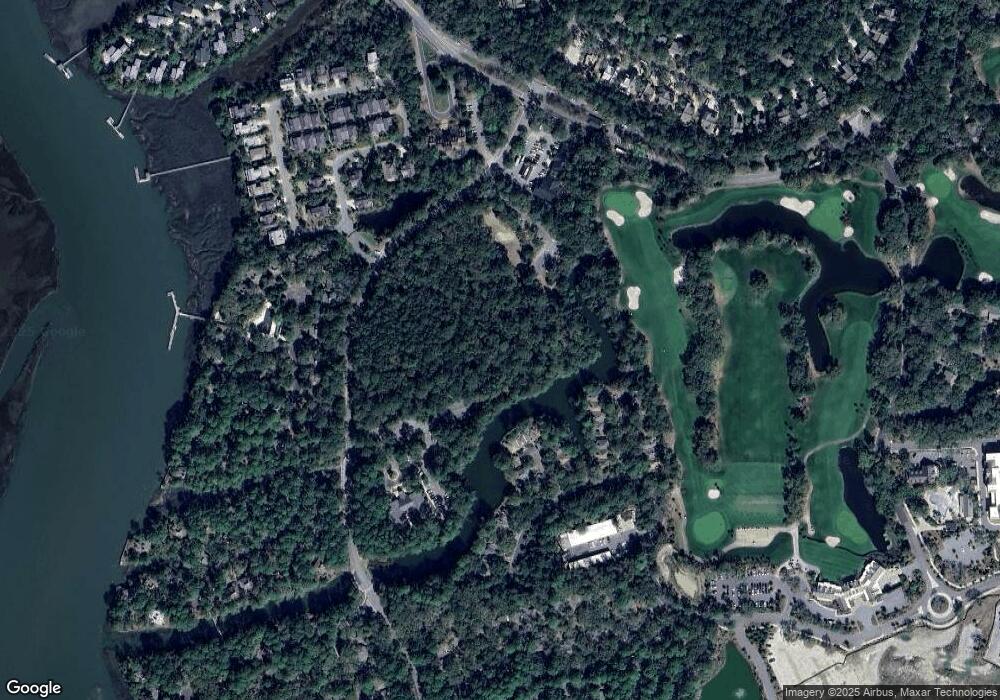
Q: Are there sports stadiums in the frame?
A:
No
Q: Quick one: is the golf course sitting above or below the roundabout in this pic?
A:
above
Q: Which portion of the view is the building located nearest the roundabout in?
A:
bottom right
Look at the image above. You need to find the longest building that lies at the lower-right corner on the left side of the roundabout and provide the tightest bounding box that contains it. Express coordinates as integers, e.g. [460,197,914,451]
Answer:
[813,559,900,611]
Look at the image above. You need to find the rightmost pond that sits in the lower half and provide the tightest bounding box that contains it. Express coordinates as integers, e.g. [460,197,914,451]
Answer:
[839,447,888,551]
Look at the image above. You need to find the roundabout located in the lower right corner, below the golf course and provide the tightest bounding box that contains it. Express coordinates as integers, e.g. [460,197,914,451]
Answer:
[921,585,960,624]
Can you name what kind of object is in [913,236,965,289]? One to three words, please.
pond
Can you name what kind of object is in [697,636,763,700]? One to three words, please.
pond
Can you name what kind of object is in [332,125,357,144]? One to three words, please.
house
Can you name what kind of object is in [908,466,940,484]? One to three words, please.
building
